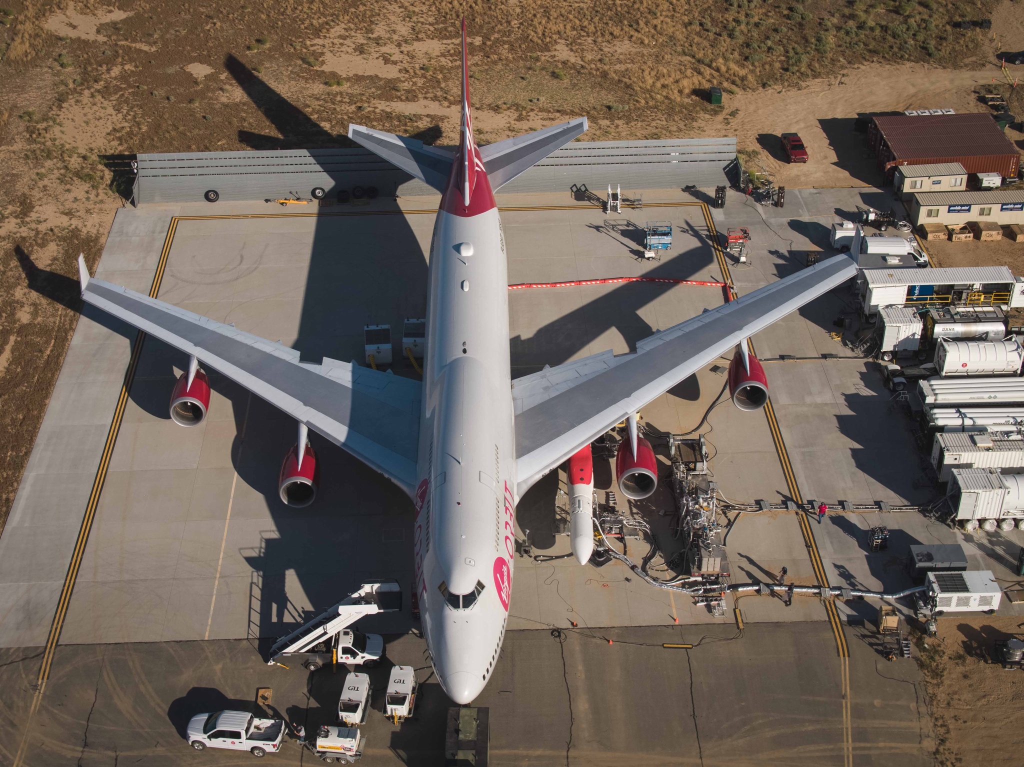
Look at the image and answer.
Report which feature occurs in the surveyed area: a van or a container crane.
van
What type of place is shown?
airport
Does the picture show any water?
No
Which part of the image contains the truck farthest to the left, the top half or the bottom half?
bottom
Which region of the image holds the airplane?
center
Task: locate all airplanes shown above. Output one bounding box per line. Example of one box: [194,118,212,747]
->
[76,13,860,707]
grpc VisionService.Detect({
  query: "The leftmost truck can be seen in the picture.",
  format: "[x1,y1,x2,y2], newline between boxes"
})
[184,708,288,758]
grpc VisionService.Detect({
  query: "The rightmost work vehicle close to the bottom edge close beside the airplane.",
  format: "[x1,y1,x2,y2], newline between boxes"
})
[446,707,491,767]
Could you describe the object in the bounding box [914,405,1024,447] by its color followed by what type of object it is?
white trailer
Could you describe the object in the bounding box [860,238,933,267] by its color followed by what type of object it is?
white van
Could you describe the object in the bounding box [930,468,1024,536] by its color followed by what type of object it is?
white trailer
